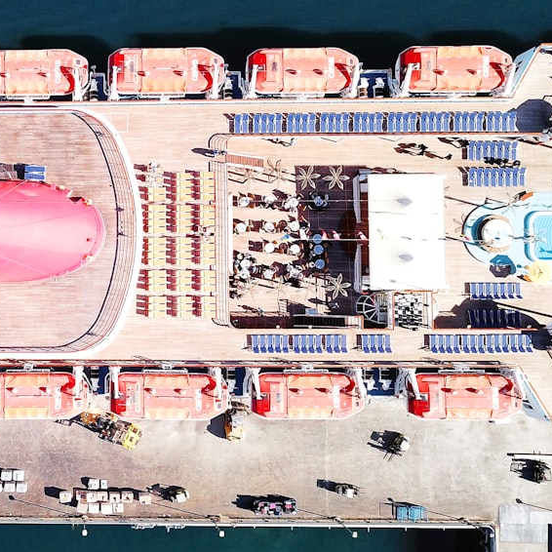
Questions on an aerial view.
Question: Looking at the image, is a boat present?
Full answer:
Yes, the frame does contain a boat.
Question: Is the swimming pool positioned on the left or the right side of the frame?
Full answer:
The swimming pool appears in the right half of the scene.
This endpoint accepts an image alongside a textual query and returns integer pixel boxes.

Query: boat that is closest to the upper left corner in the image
[0,47,89,99]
